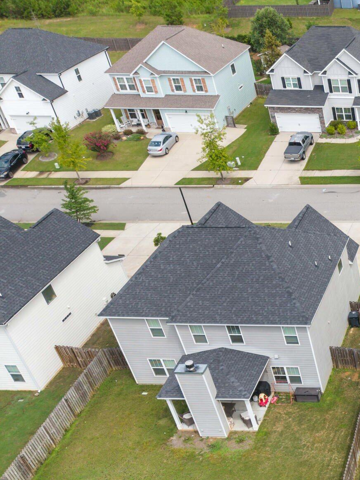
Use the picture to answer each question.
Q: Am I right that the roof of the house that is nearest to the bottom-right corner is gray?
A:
Yes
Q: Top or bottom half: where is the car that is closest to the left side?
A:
top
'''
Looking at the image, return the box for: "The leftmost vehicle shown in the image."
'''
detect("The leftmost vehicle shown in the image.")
[0,154,24,175]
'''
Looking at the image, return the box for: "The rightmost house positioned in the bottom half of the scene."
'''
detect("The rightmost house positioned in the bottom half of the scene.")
[94,202,360,437]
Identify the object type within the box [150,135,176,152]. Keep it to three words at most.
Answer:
car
